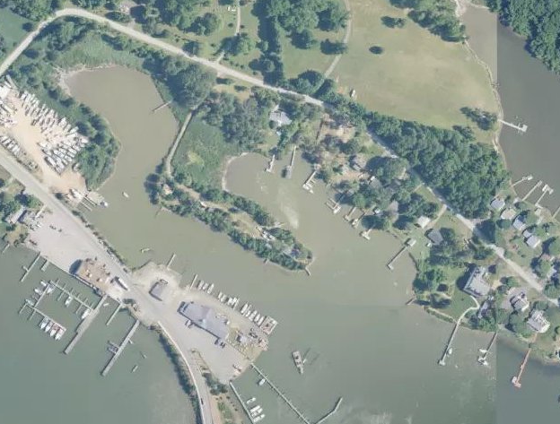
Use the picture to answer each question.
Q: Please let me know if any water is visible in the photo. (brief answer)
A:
Yes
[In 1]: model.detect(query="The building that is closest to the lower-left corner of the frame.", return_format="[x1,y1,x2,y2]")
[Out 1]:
[76,260,111,291]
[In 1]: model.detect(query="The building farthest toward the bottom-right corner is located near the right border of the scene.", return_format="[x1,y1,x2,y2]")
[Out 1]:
[526,311,554,336]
